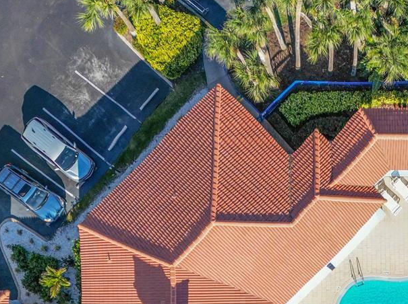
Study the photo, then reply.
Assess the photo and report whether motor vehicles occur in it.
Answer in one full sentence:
Yes, this view includes a motor vehicle.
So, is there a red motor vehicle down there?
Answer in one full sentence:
No, there appears to be no red motor vehicle in this shot.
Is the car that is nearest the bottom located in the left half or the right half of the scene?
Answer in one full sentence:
You can find the car that is nearest the bottom on the left side of the picture.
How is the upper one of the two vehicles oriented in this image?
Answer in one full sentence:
I'd say the upper one of the two vehicles is aligned diagonally in the picture.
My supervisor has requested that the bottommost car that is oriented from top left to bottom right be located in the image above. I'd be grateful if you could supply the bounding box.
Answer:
[0,163,69,224]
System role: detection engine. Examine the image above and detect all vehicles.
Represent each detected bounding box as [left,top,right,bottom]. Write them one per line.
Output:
[0,163,69,224]
[23,118,101,184]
